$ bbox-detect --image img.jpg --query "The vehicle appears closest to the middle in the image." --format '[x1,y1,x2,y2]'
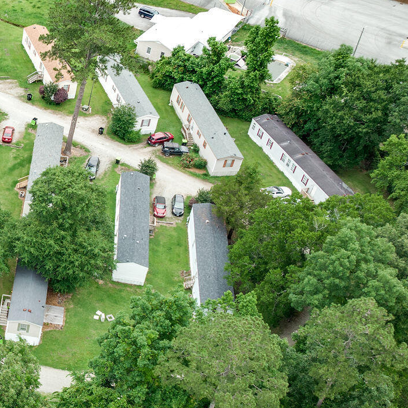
[172,192,186,212]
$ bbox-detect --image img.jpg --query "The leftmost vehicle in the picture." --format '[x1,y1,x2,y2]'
[2,123,16,139]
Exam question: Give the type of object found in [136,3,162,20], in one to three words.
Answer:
car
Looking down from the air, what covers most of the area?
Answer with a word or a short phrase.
trees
